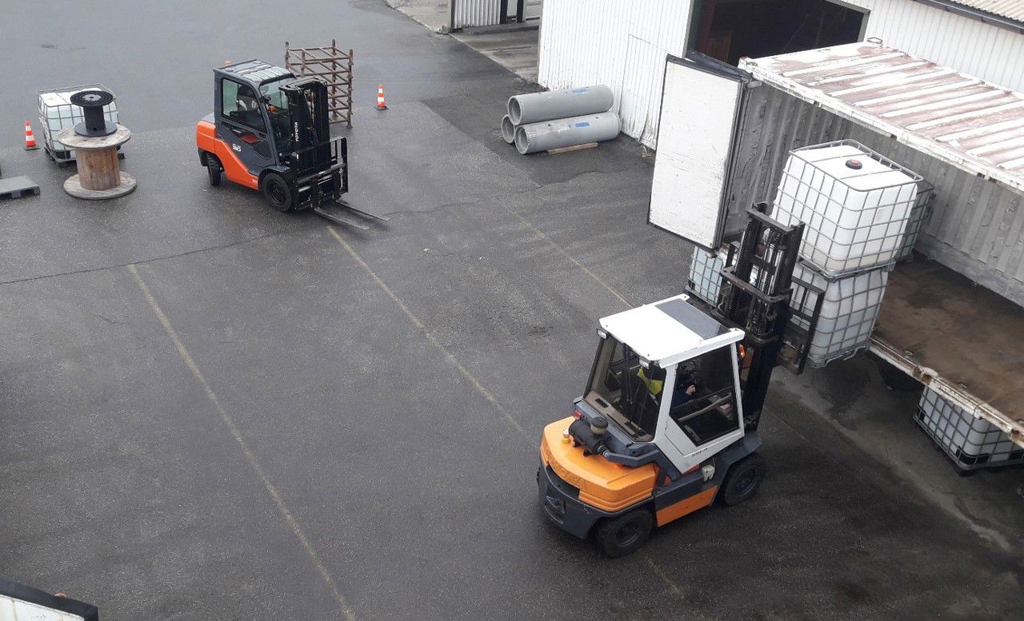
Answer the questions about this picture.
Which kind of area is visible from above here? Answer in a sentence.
It's an industrial area.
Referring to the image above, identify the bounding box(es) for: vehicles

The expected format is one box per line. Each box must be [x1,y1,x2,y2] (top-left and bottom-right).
[537,200,834,557]
[200,53,392,231]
